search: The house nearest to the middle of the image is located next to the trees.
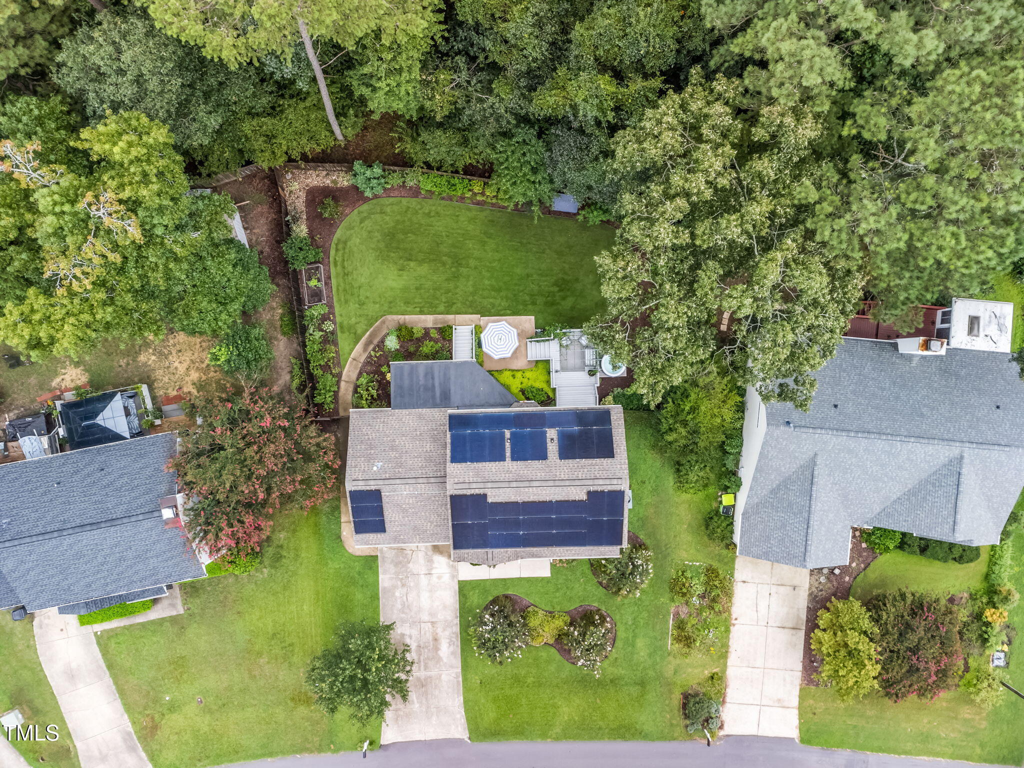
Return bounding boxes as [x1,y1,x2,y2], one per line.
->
[342,357,632,572]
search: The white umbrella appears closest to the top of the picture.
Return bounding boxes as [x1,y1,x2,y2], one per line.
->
[481,321,521,361]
